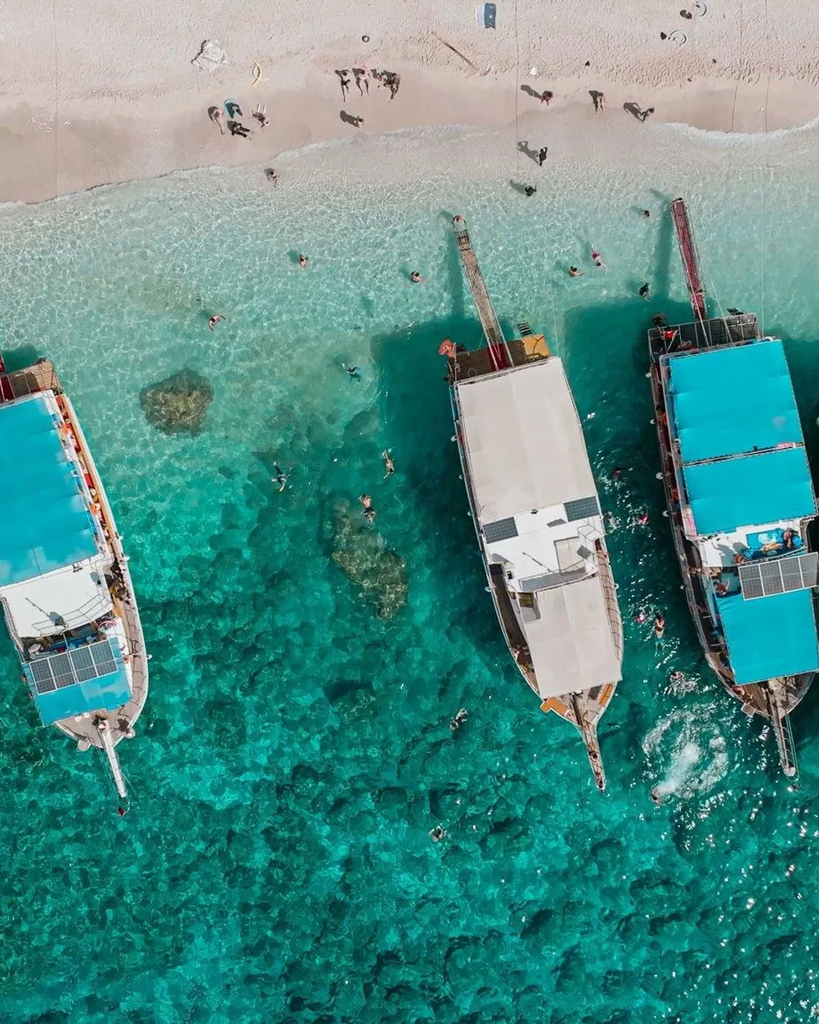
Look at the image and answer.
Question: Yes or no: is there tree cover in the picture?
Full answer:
No, there's no tree cover in this view.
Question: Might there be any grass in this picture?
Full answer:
No, the picture contains no grass.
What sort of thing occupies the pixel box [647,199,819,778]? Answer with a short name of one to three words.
boat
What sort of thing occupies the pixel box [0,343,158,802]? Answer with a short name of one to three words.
boat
